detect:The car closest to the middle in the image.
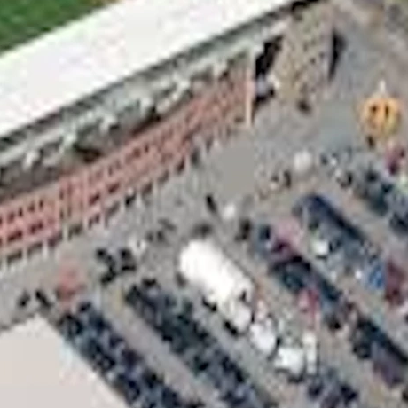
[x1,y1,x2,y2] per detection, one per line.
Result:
[195,195,219,210]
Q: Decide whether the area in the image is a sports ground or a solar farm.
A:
sports ground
